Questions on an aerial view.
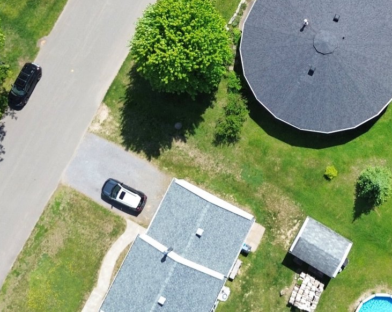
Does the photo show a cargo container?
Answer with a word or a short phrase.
No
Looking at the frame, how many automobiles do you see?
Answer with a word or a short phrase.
2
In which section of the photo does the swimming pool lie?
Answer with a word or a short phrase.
bottom right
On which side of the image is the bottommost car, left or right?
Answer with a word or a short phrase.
left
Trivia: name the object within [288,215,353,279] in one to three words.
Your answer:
shed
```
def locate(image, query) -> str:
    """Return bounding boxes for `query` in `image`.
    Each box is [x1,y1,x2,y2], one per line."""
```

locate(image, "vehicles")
[100,181,150,213]
[11,59,45,112]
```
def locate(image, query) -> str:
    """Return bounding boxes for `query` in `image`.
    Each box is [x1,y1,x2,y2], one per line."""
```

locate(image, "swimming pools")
[354,290,392,312]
